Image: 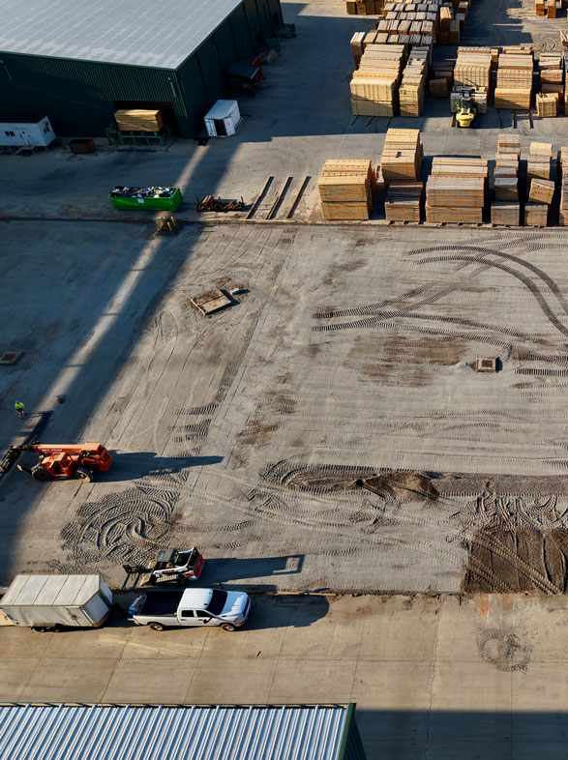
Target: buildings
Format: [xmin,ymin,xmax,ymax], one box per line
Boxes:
[0,0,281,140]
[0,694,365,760]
